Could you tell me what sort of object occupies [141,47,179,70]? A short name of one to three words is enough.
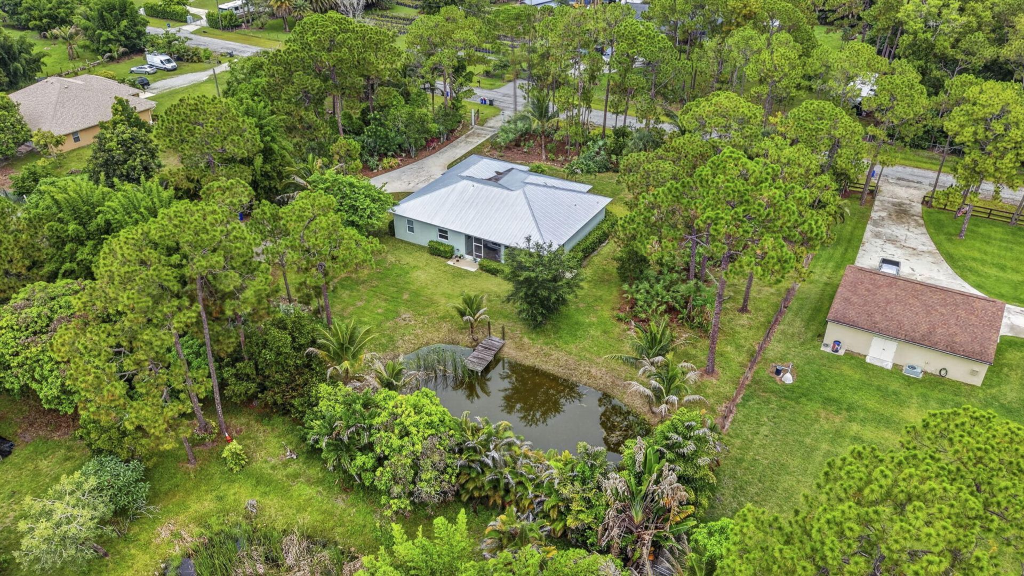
vehicle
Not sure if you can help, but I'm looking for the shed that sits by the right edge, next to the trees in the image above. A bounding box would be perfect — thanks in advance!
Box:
[821,257,1005,395]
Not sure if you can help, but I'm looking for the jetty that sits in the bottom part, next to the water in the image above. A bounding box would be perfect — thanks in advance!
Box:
[463,324,507,377]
